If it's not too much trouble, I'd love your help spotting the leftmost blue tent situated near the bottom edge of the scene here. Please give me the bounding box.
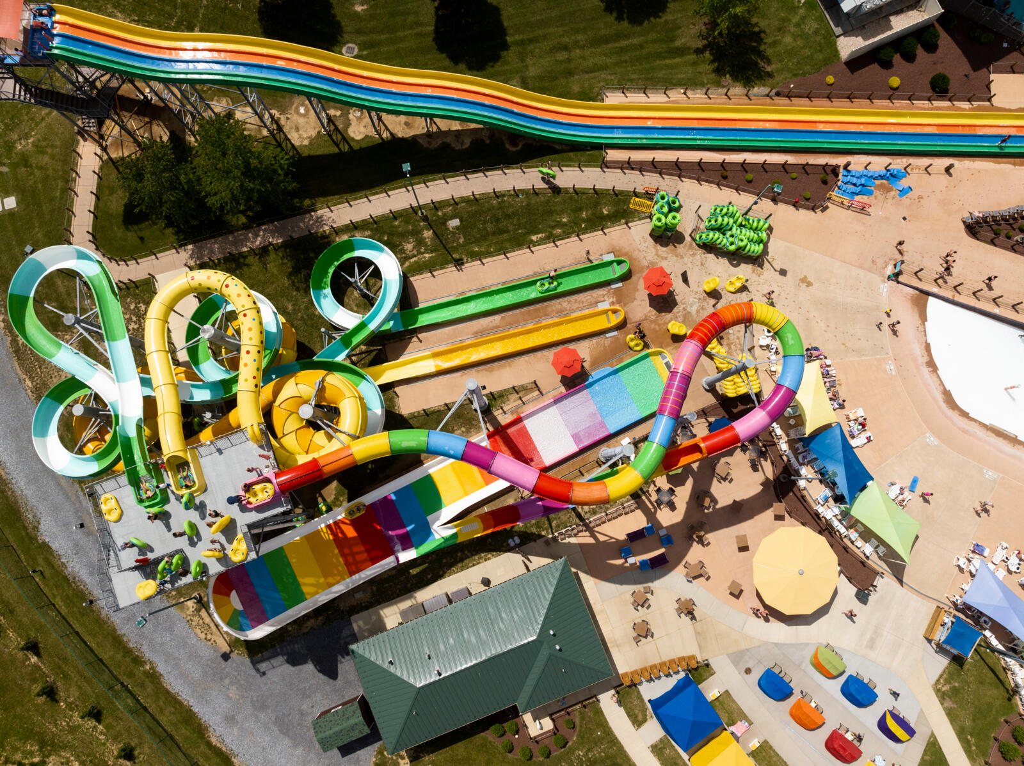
[641,666,725,754]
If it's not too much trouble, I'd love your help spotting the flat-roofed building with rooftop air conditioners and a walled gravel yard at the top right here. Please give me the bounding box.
[814,0,949,61]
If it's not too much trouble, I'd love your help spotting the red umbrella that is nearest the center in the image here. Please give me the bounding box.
[553,348,582,377]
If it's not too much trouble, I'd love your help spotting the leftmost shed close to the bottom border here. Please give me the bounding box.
[311,694,375,753]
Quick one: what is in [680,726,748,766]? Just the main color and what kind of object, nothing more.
yellow tent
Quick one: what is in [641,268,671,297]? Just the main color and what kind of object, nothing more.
red umbrella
